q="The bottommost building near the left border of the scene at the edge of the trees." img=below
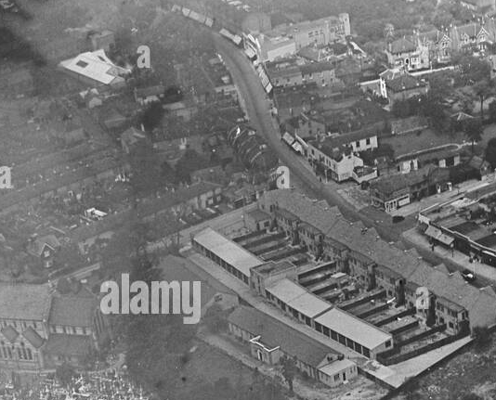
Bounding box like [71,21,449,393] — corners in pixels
[0,291,118,369]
